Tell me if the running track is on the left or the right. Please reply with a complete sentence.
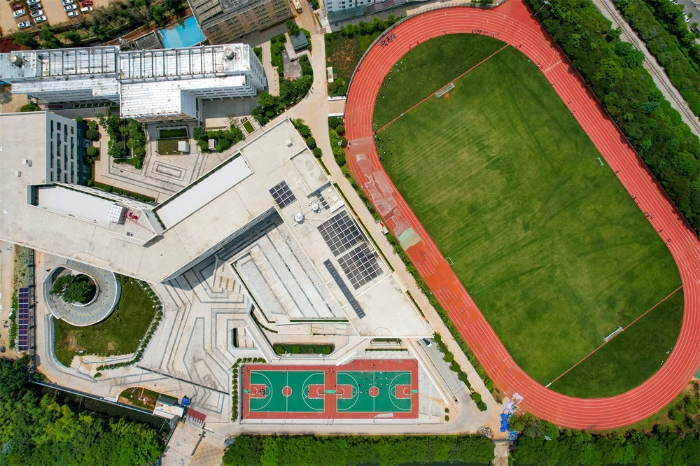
The running track is on the right side of the image.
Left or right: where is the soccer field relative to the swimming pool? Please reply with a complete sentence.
Relative to the swimming pool, the soccer field is on the right.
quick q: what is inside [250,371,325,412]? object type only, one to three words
basketball court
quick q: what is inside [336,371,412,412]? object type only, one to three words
basketball court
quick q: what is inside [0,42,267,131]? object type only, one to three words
building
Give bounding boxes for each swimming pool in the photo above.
[157,15,206,47]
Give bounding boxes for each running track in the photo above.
[344,0,700,425]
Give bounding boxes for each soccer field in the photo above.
[374,31,684,395]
